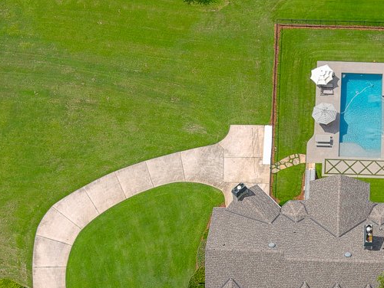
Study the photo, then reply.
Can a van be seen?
No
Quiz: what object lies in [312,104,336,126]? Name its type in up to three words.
umbrella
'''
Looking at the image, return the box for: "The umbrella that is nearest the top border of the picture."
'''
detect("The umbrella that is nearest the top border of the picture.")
[311,68,332,88]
